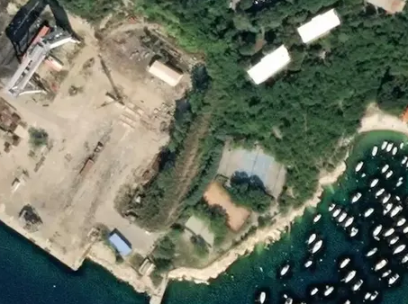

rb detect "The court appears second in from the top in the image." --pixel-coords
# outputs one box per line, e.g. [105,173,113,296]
[200,184,253,232]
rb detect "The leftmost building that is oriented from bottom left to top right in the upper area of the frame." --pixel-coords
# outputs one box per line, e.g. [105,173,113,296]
[247,44,294,84]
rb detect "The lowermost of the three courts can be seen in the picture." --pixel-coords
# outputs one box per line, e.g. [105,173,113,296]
[184,217,217,248]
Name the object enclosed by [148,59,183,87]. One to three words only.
building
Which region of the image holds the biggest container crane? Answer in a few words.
top left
